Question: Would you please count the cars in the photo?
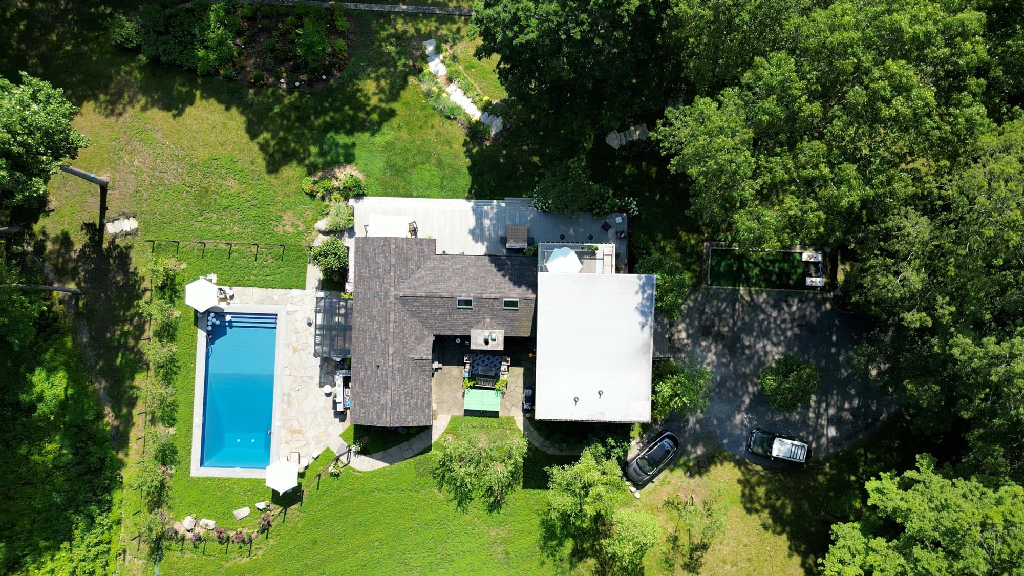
2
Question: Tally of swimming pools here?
1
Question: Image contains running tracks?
No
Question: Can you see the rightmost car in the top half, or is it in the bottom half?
bottom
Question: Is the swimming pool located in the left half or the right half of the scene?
left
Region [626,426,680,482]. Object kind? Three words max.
car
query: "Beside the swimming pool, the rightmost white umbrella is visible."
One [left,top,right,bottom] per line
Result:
[266,460,298,495]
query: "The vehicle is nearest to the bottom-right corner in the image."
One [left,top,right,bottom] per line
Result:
[746,430,815,466]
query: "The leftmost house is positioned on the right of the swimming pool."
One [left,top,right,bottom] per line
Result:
[351,237,537,433]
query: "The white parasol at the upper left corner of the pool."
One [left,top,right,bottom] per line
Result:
[186,278,218,312]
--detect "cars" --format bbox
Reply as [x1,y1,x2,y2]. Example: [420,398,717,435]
[746,430,815,466]
[626,426,680,482]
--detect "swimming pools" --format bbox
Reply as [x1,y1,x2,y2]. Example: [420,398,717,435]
[190,305,286,479]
